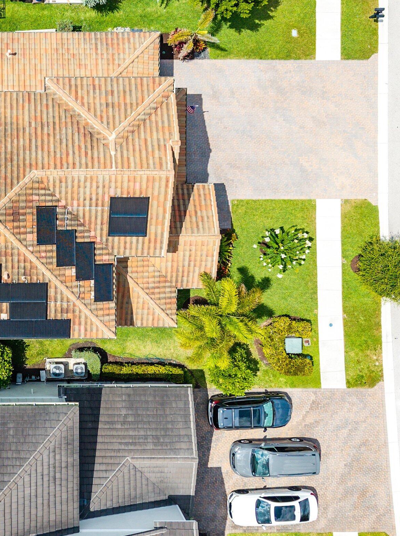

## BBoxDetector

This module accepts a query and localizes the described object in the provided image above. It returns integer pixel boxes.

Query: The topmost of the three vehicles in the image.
[207,393,292,434]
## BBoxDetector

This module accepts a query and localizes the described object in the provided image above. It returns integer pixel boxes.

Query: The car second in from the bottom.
[228,437,318,482]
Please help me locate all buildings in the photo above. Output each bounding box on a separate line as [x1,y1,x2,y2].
[0,30,222,342]
[0,382,203,536]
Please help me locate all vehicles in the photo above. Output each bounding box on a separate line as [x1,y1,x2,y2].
[226,487,315,532]
[228,437,318,482]
[207,393,292,434]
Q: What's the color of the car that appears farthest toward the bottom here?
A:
white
